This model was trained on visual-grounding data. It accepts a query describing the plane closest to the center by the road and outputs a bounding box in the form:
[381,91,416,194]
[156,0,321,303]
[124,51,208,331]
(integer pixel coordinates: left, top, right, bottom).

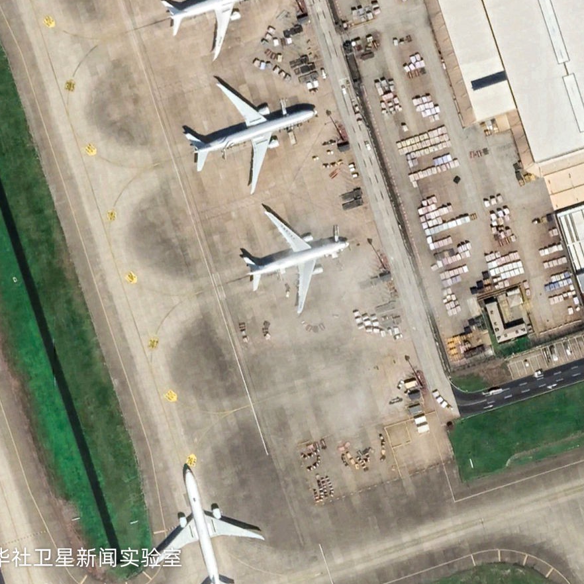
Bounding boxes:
[243,213,349,314]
